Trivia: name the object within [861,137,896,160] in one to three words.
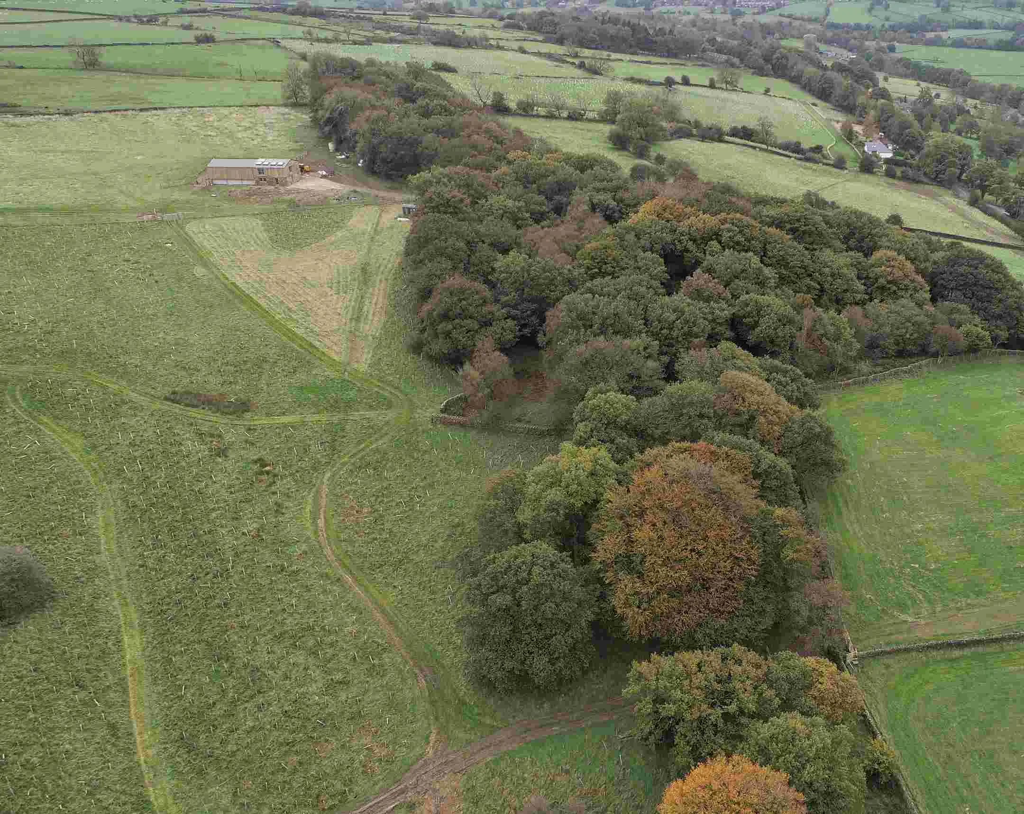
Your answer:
house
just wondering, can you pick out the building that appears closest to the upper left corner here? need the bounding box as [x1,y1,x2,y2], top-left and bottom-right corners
[207,159,297,186]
